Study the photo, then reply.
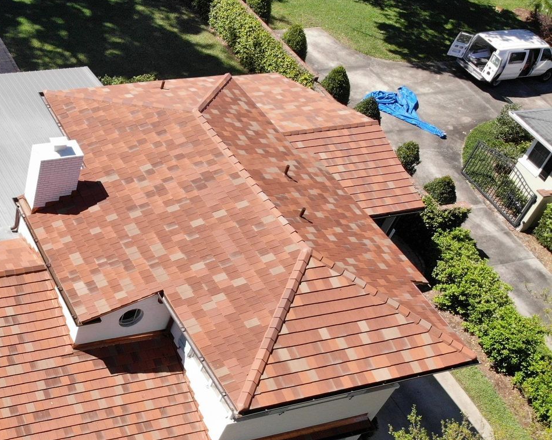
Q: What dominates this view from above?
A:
buildings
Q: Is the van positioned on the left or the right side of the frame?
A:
right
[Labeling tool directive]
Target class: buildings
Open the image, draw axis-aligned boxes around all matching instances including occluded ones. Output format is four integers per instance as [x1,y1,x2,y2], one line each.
[493,105,552,202]
[0,63,483,440]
